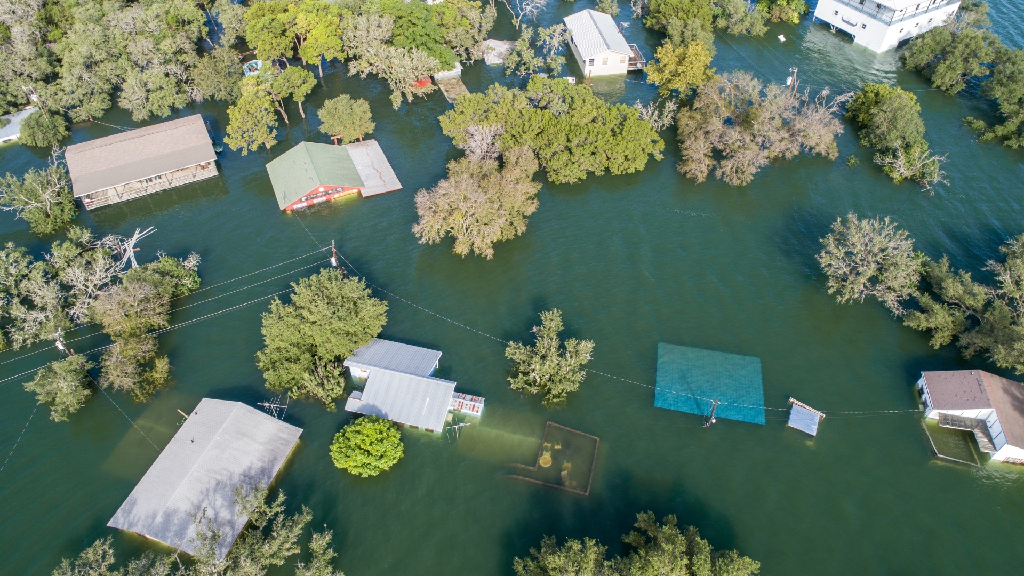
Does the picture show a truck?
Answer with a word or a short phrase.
No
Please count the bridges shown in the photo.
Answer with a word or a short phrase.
0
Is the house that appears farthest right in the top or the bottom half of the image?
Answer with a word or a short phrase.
bottom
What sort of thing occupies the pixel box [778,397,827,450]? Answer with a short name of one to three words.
shed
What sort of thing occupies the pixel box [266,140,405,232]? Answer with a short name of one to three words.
building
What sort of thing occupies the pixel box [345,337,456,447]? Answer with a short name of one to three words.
house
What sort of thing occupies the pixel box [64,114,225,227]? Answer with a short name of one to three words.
house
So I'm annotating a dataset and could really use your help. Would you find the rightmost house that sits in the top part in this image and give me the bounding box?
[812,0,963,71]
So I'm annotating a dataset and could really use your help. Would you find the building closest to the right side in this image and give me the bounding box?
[905,367,1024,485]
